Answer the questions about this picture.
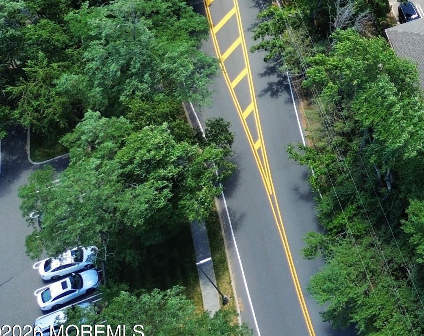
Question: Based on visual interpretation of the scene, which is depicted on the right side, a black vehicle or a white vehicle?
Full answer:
You can see a black vehicle on the right side.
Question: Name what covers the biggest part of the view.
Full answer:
The scene is dominated by trees.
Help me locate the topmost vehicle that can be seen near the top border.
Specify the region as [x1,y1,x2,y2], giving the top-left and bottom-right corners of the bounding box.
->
[399,5,419,23]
